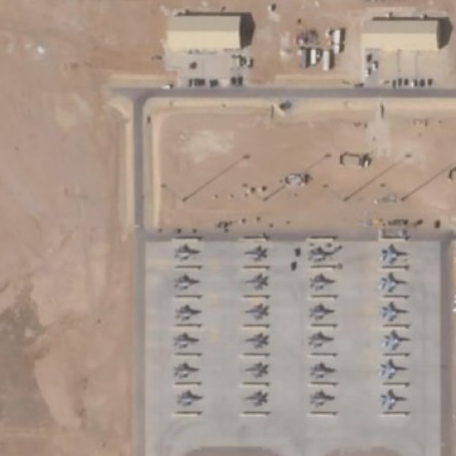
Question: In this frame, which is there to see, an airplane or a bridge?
airplane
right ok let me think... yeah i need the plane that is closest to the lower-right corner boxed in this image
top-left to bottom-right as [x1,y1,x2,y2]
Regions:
[376,391,403,408]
